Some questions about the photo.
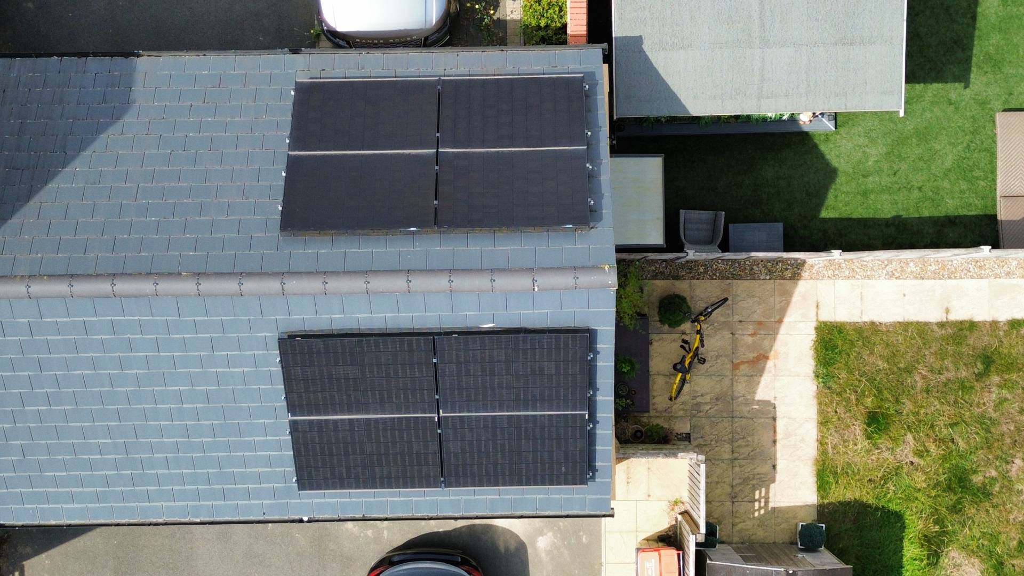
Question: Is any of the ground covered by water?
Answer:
No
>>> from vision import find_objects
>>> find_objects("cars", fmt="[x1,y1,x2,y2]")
[371,549,490,576]
[318,0,459,50]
